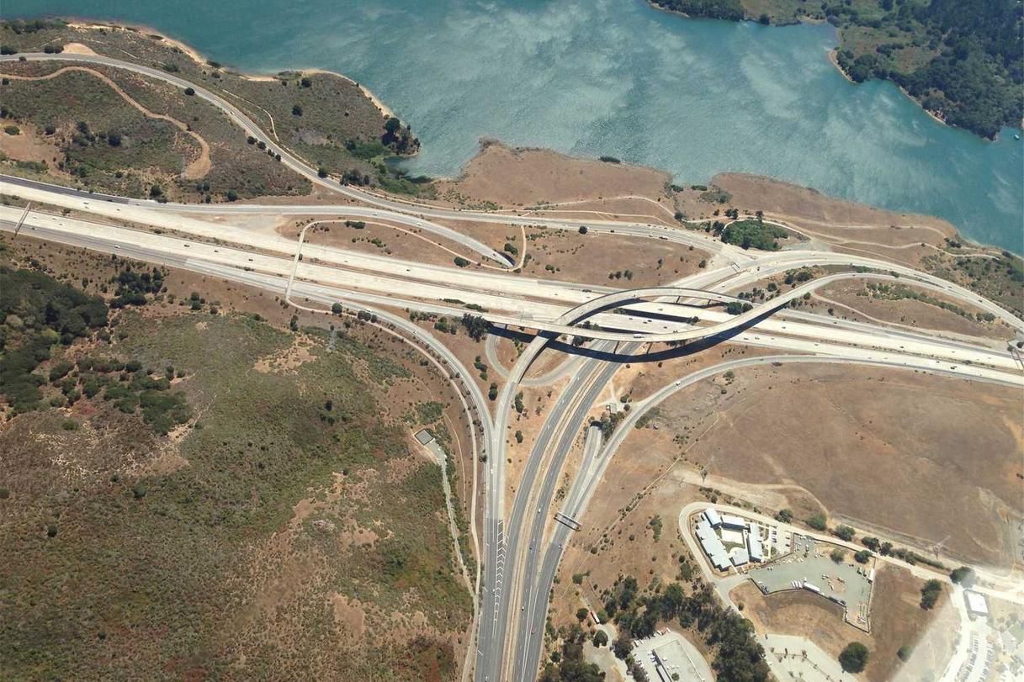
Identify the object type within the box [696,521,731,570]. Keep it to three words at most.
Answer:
building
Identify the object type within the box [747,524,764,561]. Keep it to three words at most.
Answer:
building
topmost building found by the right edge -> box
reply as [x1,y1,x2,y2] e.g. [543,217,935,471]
[965,592,988,615]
